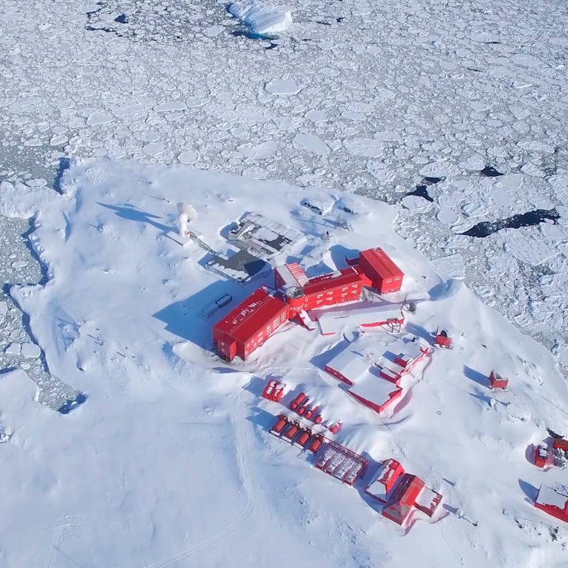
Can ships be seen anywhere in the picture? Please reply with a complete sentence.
No, no ship is visible in the scene.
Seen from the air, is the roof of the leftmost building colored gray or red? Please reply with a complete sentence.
The roof of the leftmost building looks red in the image.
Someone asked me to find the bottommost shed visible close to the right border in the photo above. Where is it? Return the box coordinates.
[535,485,568,524]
